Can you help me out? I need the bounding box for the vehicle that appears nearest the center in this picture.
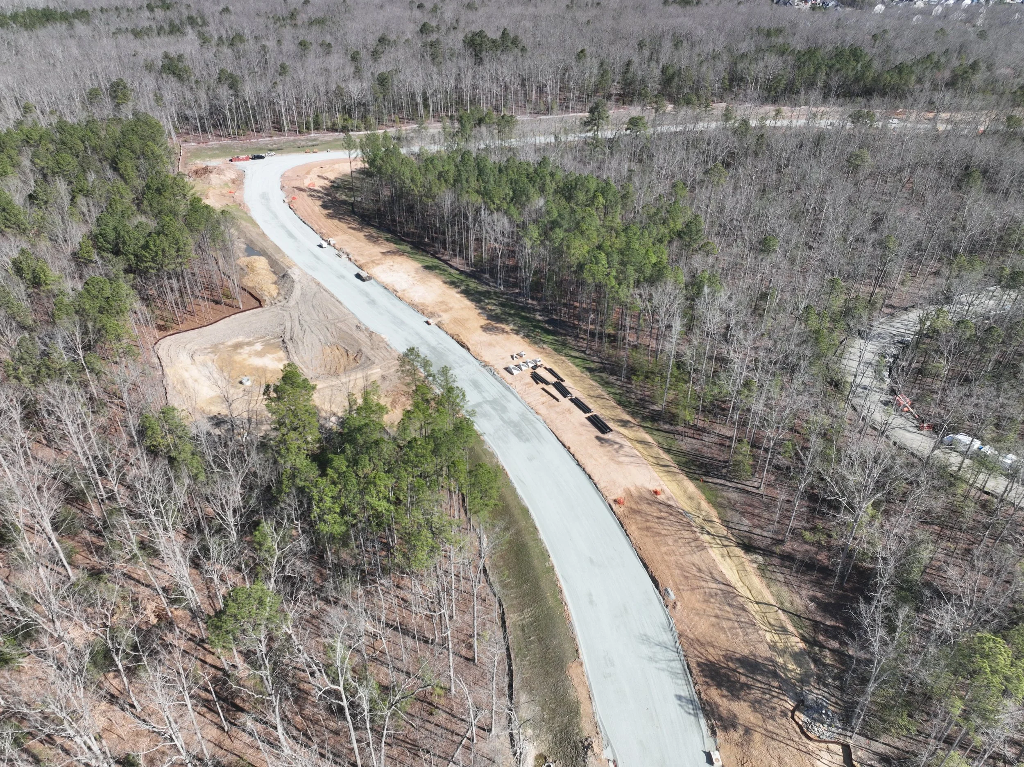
[355,265,371,278]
